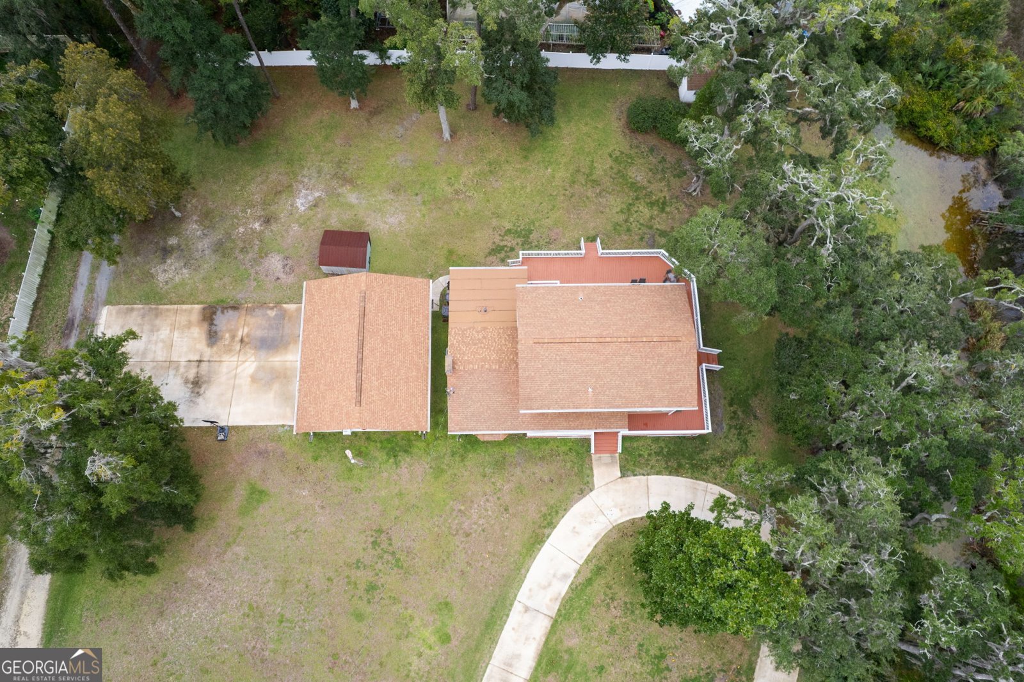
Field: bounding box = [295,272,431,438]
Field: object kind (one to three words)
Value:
building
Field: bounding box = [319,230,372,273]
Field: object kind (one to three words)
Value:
shed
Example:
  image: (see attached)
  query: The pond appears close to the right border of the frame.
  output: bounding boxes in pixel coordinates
[864,119,1024,659]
